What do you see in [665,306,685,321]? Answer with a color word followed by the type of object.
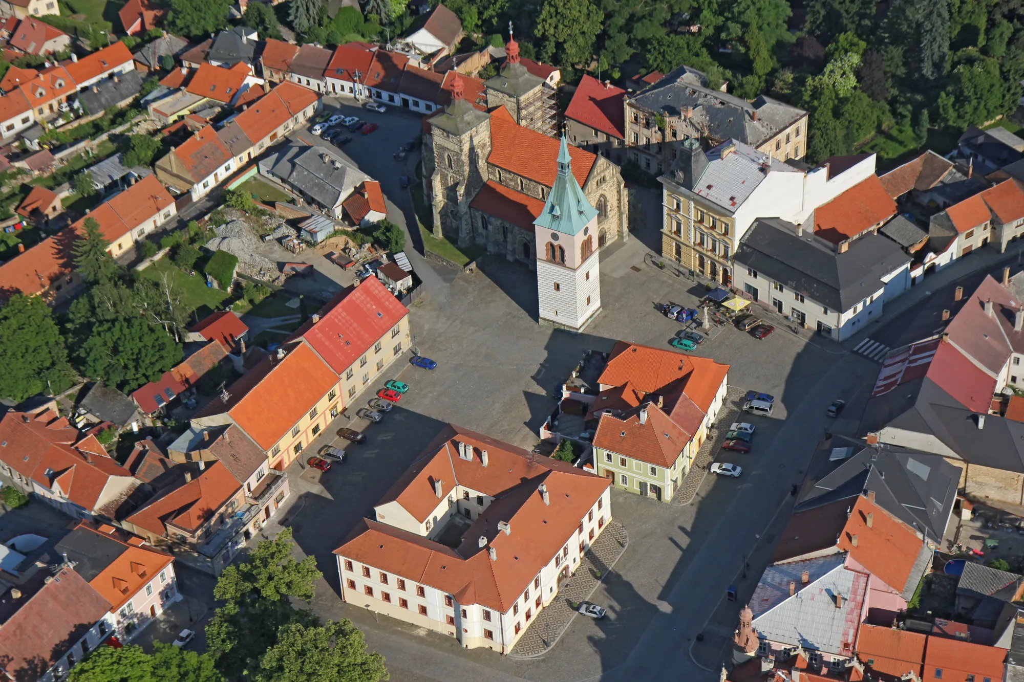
gray car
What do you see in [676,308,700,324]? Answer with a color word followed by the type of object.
blue car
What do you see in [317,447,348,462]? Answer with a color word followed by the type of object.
gray car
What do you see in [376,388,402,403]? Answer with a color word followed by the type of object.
red car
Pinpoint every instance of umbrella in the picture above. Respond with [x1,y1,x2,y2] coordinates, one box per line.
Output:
[703,288,733,309]
[719,296,753,318]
